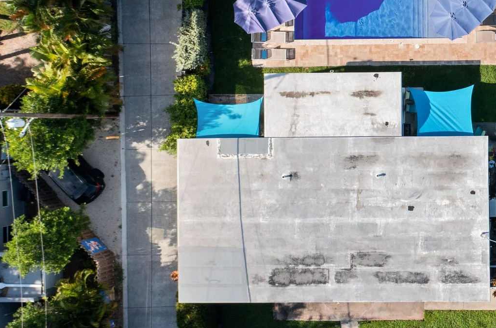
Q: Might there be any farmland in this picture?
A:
No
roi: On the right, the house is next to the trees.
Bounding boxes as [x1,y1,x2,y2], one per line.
[178,70,490,307]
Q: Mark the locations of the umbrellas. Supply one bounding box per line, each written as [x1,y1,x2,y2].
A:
[233,0,308,33]
[431,0,496,40]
